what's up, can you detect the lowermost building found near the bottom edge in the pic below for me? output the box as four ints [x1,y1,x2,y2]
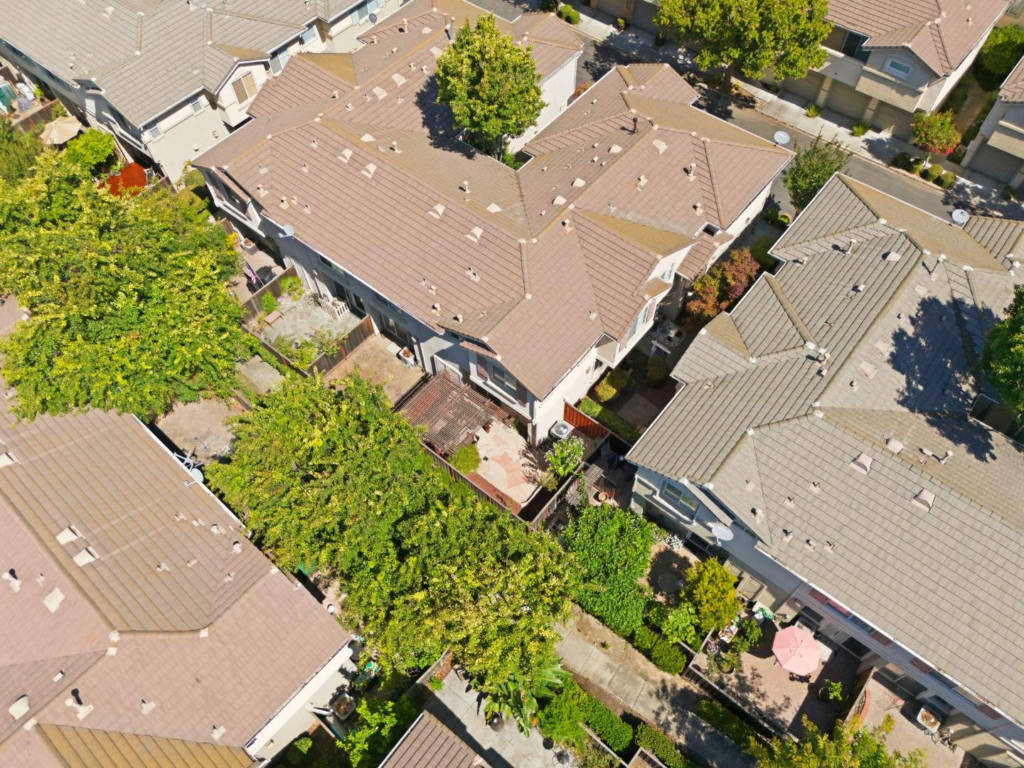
[373,704,499,768]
